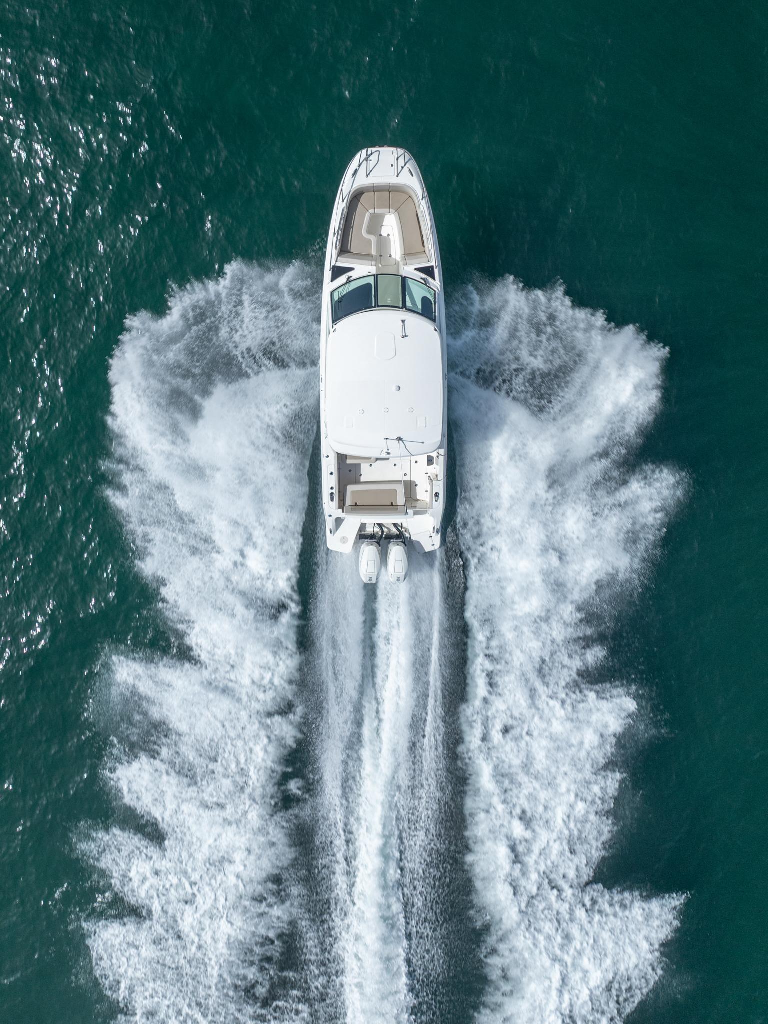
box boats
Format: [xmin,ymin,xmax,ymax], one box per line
[320,145,448,584]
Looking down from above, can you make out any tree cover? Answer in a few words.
No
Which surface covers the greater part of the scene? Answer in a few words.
water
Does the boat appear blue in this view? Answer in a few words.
No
